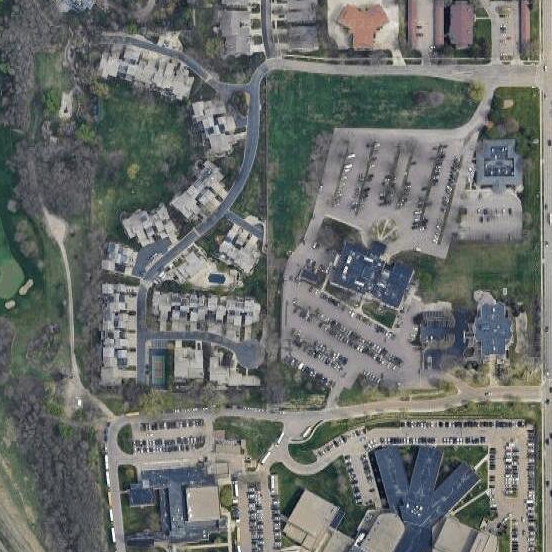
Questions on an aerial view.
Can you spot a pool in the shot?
Yes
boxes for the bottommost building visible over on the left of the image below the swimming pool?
[128,463,230,547]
